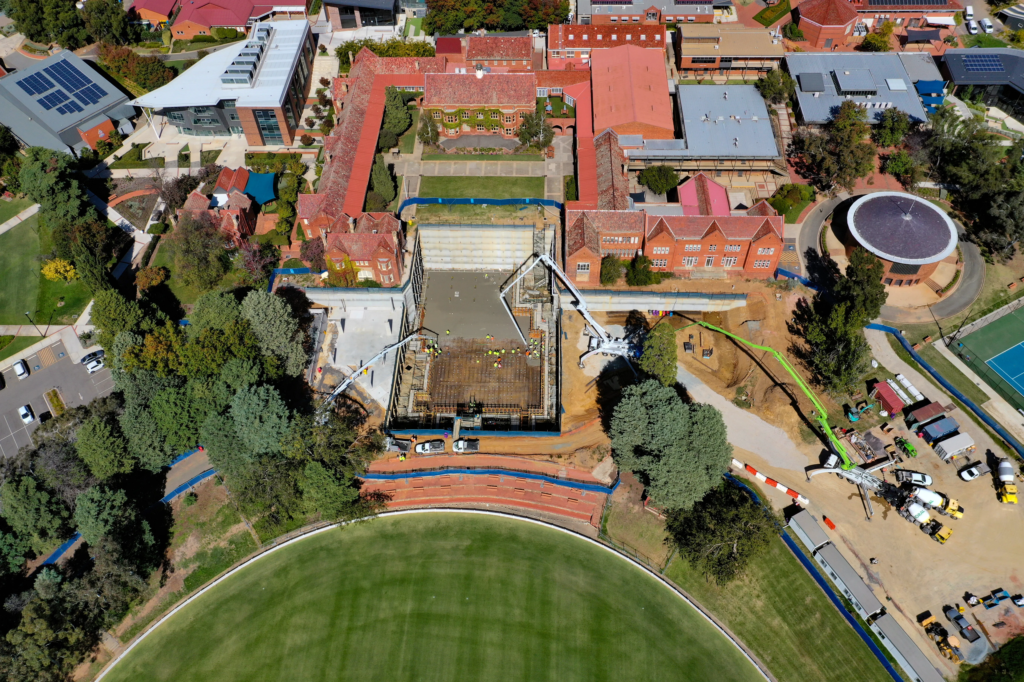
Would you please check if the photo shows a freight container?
Yes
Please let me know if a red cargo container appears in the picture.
Yes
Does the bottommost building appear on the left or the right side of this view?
right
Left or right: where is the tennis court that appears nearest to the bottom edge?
right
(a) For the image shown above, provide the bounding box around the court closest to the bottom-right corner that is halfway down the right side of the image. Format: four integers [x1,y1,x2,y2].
[948,298,1024,411]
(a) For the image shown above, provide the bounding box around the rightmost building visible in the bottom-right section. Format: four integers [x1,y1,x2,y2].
[869,613,944,682]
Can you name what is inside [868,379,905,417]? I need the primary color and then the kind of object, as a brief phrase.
red shipping container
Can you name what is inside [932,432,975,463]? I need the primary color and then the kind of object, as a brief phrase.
white shipping container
